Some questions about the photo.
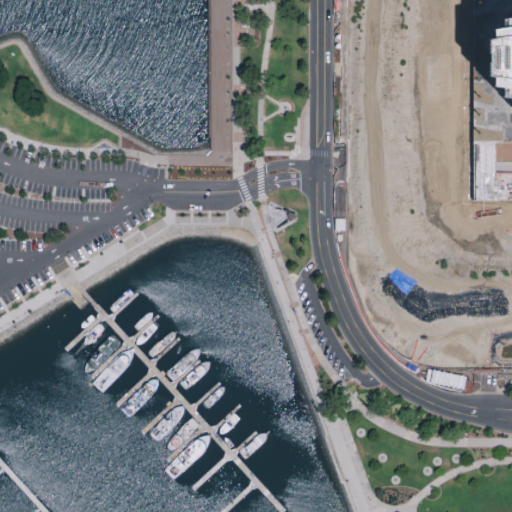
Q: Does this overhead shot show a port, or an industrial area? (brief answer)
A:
port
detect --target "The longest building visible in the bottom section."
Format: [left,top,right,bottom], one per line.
[426,370,469,392]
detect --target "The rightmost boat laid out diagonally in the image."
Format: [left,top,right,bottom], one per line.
[239,431,268,459]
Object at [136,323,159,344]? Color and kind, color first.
white boat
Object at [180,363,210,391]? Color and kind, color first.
white boat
